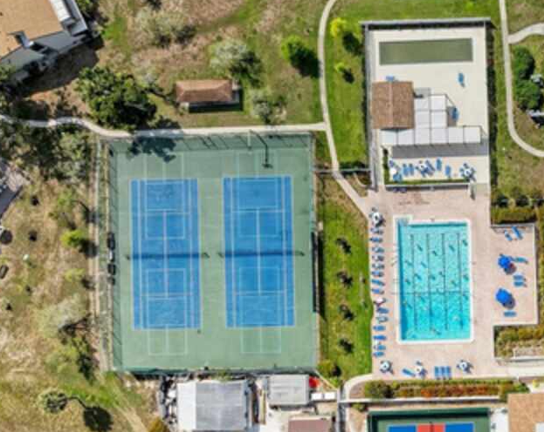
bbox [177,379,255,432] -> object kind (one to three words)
shed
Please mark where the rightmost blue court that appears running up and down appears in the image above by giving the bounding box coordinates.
[217,149,296,353]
